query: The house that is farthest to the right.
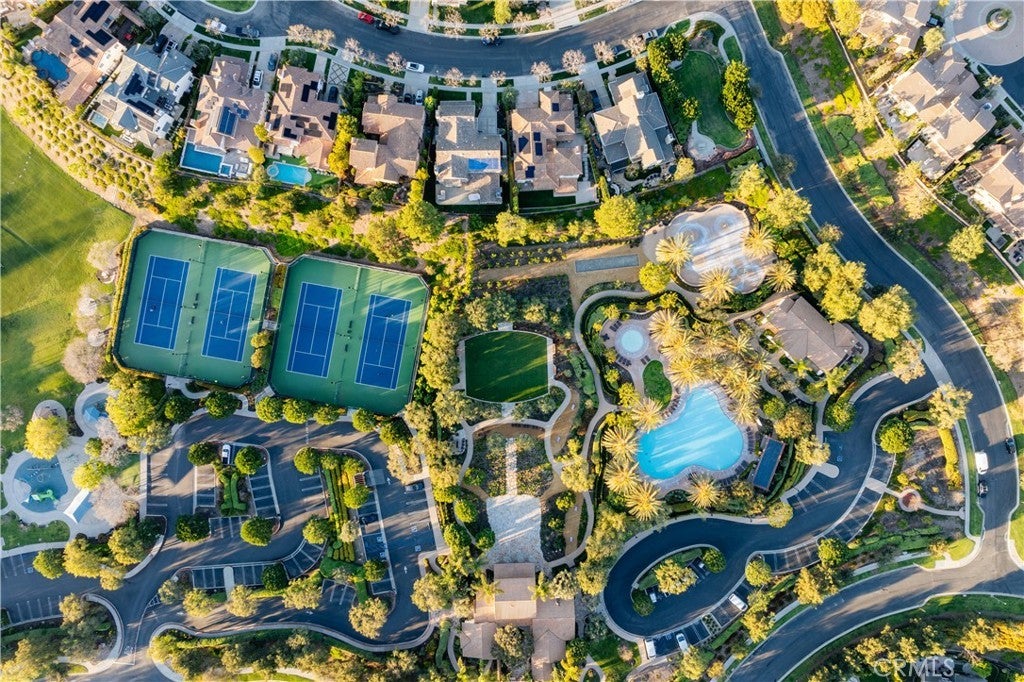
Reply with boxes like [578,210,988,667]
[960,121,1024,239]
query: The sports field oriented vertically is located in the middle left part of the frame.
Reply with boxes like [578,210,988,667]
[0,106,134,459]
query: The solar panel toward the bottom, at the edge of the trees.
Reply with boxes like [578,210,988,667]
[756,439,781,488]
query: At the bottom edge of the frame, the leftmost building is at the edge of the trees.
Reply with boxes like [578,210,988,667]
[461,559,576,682]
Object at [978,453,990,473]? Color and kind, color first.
white vehicle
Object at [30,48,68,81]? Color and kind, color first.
blue swimming pool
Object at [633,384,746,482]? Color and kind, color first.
blue swimming pool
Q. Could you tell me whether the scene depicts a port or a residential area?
residential area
